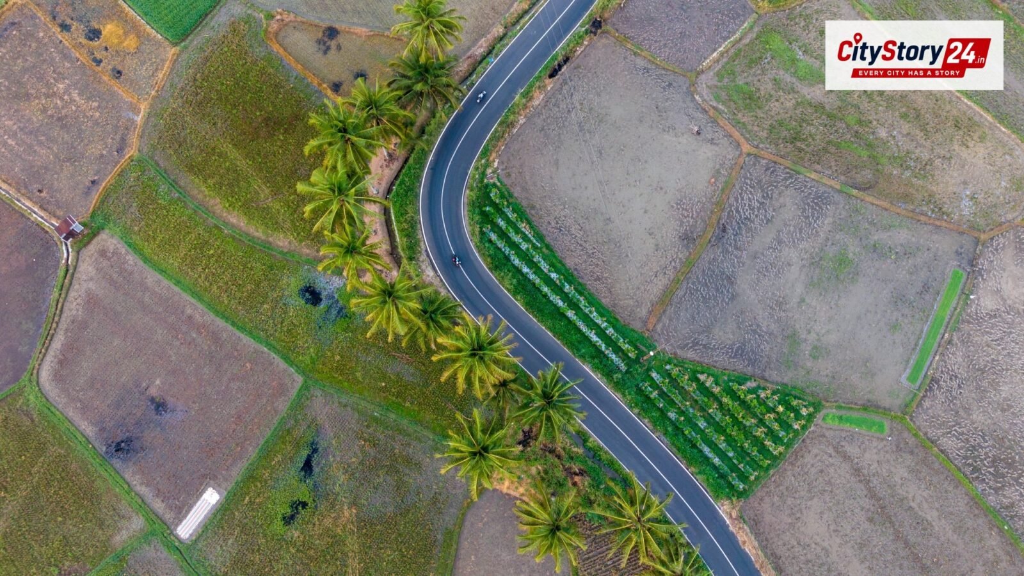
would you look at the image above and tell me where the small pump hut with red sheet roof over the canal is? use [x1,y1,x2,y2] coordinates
[54,214,88,243]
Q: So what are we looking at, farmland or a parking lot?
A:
farmland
